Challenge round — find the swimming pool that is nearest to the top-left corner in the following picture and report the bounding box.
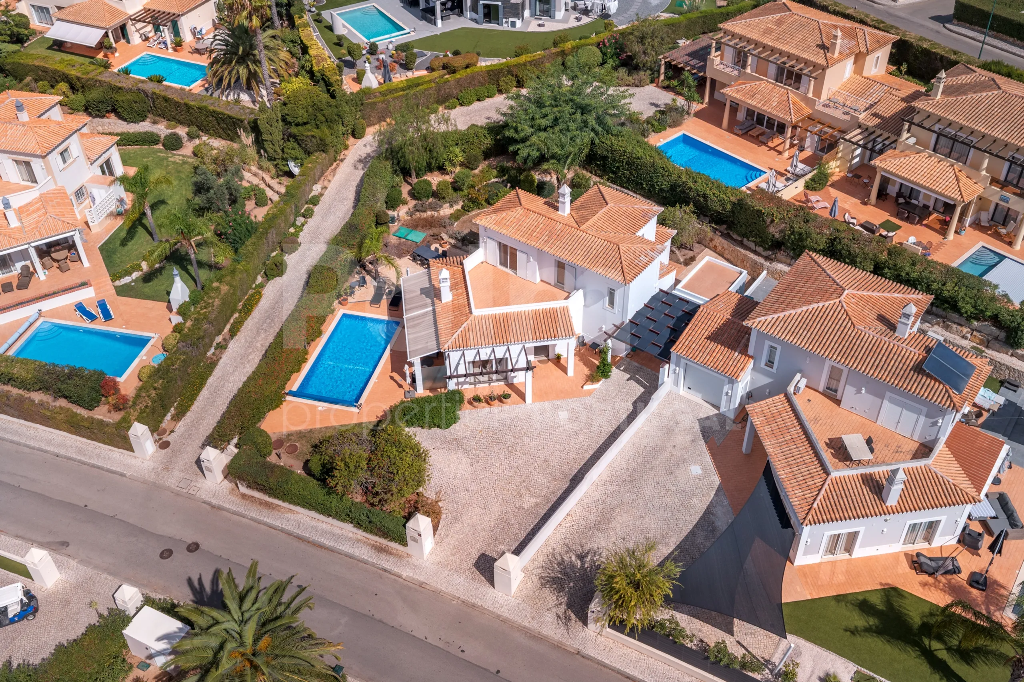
[113,51,217,88]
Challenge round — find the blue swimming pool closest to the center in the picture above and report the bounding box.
[287,309,404,412]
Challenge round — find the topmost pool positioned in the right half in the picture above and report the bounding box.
[645,130,770,195]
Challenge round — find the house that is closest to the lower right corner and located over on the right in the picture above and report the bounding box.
[669,248,1010,566]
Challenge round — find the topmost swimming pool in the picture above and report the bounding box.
[342,2,415,45]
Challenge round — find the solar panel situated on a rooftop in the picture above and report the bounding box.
[922,341,977,400]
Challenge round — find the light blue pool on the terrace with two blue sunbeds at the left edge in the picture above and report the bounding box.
[3,316,159,381]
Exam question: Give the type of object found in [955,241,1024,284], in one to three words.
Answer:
swimming pool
